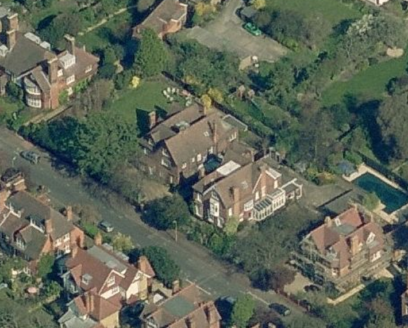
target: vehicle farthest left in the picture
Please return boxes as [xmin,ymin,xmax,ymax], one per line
[20,149,40,162]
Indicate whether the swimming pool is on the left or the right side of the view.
right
